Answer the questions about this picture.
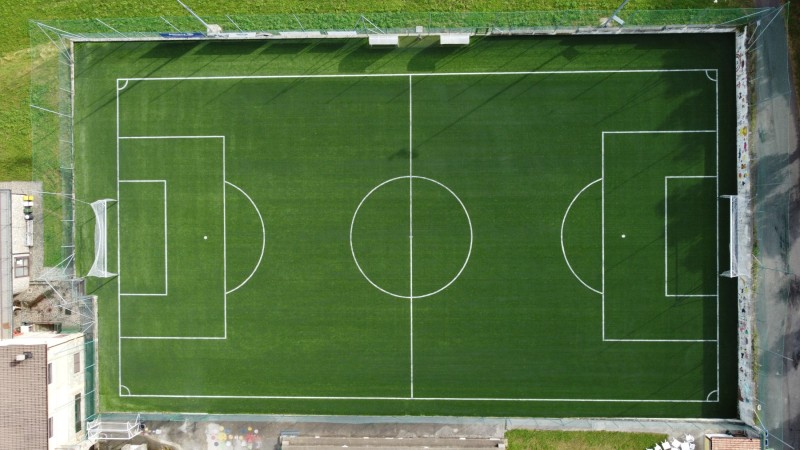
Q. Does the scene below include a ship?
No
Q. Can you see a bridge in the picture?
No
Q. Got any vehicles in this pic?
No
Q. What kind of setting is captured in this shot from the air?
sports ground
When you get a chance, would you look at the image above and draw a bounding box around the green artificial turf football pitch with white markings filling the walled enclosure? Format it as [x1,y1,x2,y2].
[74,34,739,420]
